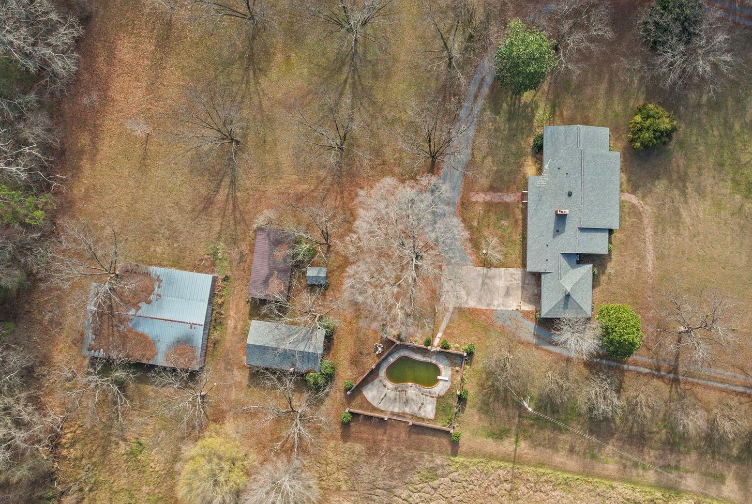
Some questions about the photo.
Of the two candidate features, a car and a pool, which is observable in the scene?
pool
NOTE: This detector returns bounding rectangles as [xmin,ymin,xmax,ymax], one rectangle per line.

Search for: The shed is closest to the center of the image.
[307,268,329,285]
